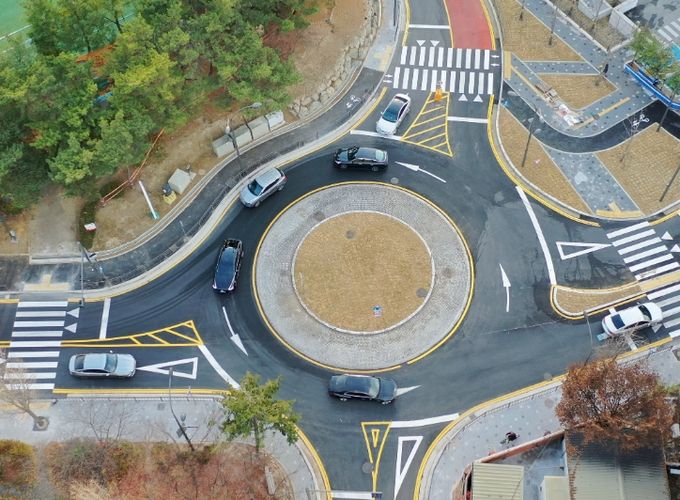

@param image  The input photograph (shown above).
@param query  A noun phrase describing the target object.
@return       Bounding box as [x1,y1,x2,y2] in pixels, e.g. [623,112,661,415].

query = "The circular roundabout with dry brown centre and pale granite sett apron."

[222,162,512,396]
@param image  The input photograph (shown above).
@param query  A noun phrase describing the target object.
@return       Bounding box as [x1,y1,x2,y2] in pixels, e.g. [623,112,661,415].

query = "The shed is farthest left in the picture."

[466,463,525,500]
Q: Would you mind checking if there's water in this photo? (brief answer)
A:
No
